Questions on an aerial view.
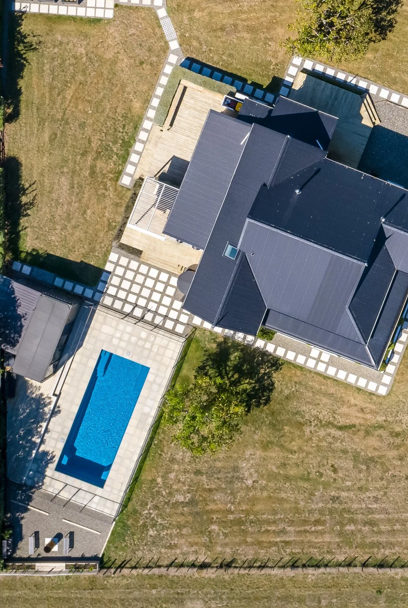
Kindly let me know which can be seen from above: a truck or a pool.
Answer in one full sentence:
Looking from above, you can make out a pool.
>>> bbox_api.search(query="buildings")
[163,95,408,373]
[0,274,83,384]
